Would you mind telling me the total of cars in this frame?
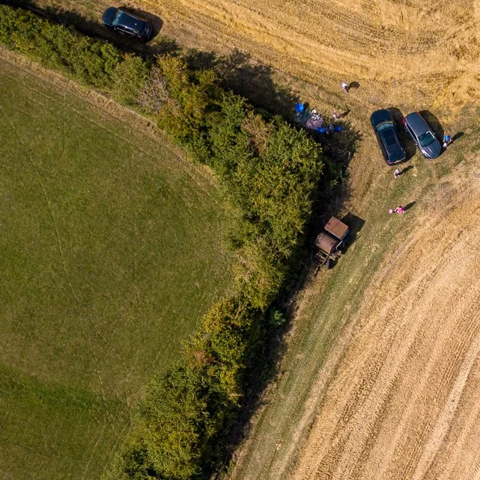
three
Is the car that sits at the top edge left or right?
left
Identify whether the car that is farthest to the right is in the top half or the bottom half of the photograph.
top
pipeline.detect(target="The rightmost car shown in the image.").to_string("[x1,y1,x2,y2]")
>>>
[405,110,444,160]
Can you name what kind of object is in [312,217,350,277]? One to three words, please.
trailer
